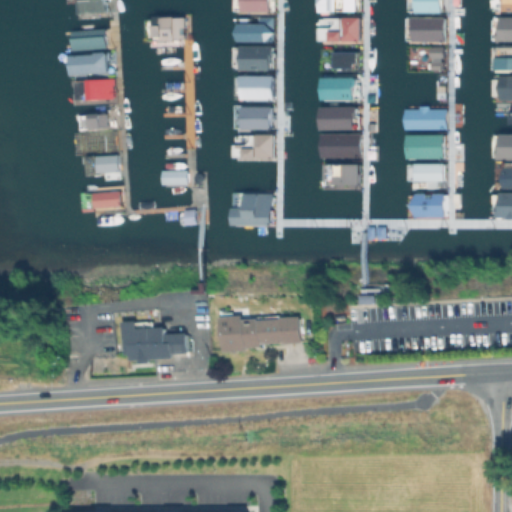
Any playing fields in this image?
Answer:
No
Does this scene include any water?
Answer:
Yes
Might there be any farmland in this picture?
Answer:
No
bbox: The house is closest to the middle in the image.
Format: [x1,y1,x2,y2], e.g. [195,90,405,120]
[228,192,276,228]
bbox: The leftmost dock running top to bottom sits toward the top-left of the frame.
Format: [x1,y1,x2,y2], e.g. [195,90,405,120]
[112,0,132,212]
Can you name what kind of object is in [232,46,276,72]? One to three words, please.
house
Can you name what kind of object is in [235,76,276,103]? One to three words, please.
house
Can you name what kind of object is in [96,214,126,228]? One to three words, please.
boat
